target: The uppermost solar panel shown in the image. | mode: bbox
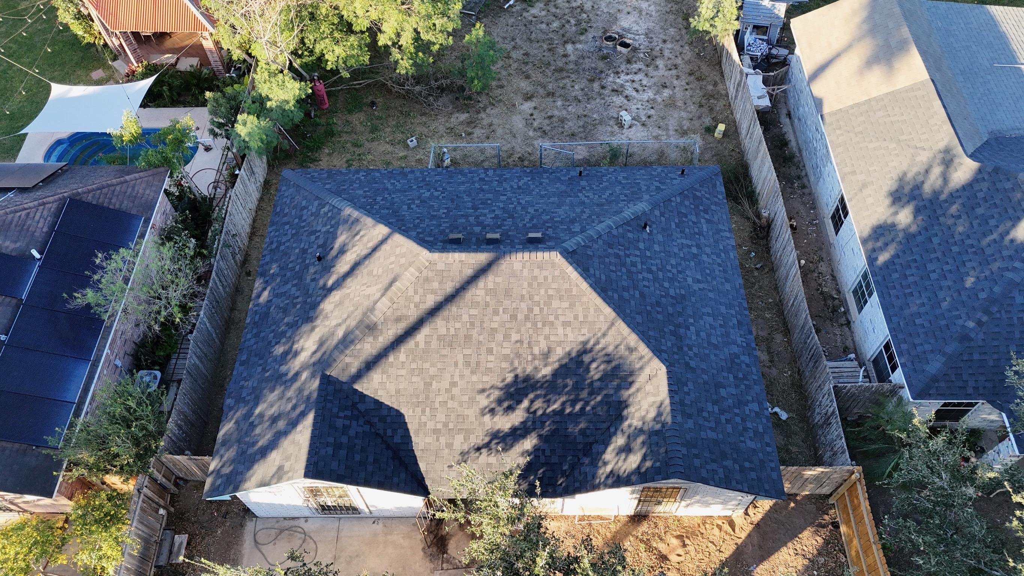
[0,163,67,188]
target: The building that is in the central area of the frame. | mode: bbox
[204,164,789,521]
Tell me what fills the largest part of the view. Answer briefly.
buildings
